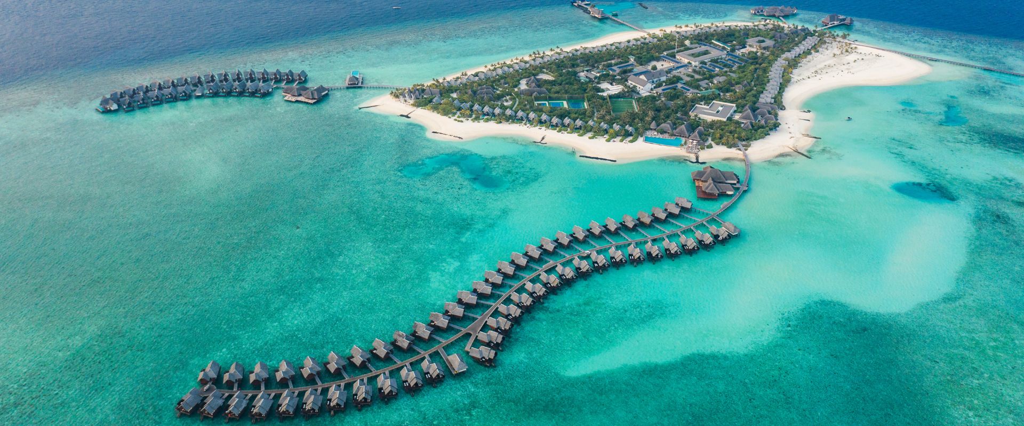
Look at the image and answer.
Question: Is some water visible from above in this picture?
Yes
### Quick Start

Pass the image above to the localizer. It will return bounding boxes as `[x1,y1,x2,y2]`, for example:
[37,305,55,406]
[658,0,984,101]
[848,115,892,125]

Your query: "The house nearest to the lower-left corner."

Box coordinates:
[172,388,203,419]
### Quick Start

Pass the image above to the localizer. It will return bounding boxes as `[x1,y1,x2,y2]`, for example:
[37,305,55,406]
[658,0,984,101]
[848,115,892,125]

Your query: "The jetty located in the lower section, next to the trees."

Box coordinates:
[199,142,751,398]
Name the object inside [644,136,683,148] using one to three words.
swimming pool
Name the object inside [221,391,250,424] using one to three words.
house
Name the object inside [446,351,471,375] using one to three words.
building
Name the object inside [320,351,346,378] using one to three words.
house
